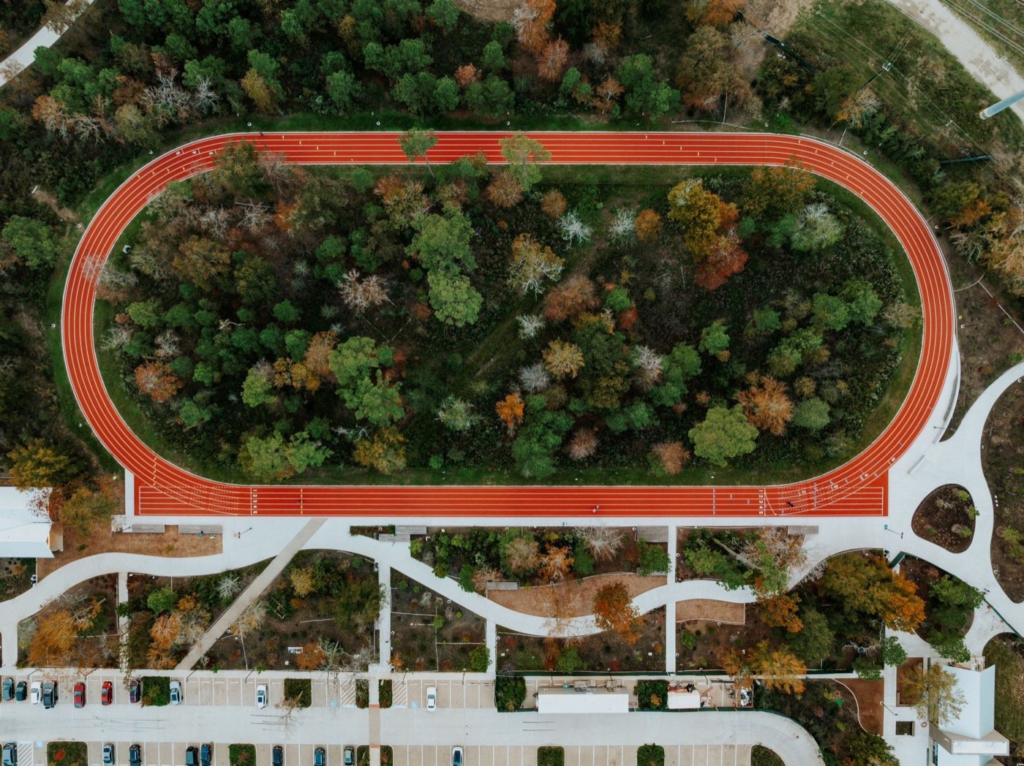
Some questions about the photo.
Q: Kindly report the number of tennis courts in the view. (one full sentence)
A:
Not a single tennis court can be seen.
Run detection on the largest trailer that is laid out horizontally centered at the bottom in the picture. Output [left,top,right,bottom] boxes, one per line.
[540,686,630,715]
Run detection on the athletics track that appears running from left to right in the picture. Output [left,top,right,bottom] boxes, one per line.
[60,131,956,517]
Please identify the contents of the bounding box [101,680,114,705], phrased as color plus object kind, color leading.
red vehicle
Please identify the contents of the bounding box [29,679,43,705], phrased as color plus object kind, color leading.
white car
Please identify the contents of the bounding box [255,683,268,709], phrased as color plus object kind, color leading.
white vehicle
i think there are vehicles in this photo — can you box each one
[314,746,326,766]
[169,680,182,703]
[101,680,114,705]
[187,745,199,766]
[128,678,142,703]
[3,743,18,766]
[103,743,116,766]
[42,680,57,710]
[15,680,29,703]
[255,683,268,709]
[426,686,437,712]
[343,745,355,766]
[1,676,16,701]
[128,744,142,766]
[200,743,212,766]
[74,682,86,707]
[272,744,284,766]
[29,679,43,705]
